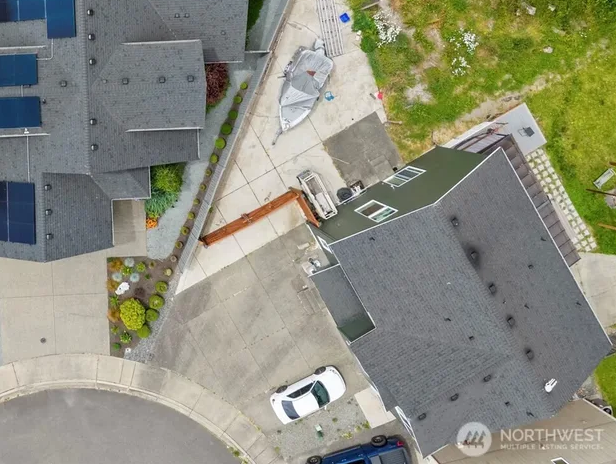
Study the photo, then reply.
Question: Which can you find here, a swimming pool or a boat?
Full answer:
Looking from above, you can make out a boat.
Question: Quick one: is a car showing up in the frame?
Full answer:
Yes, there's a car down there.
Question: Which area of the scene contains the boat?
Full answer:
You can find the boat in the top area of the picture.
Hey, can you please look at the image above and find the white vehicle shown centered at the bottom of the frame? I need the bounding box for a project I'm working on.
[266,365,347,421]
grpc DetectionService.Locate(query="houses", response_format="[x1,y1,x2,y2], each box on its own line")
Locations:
[0,0,249,261]
[305,141,612,459]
